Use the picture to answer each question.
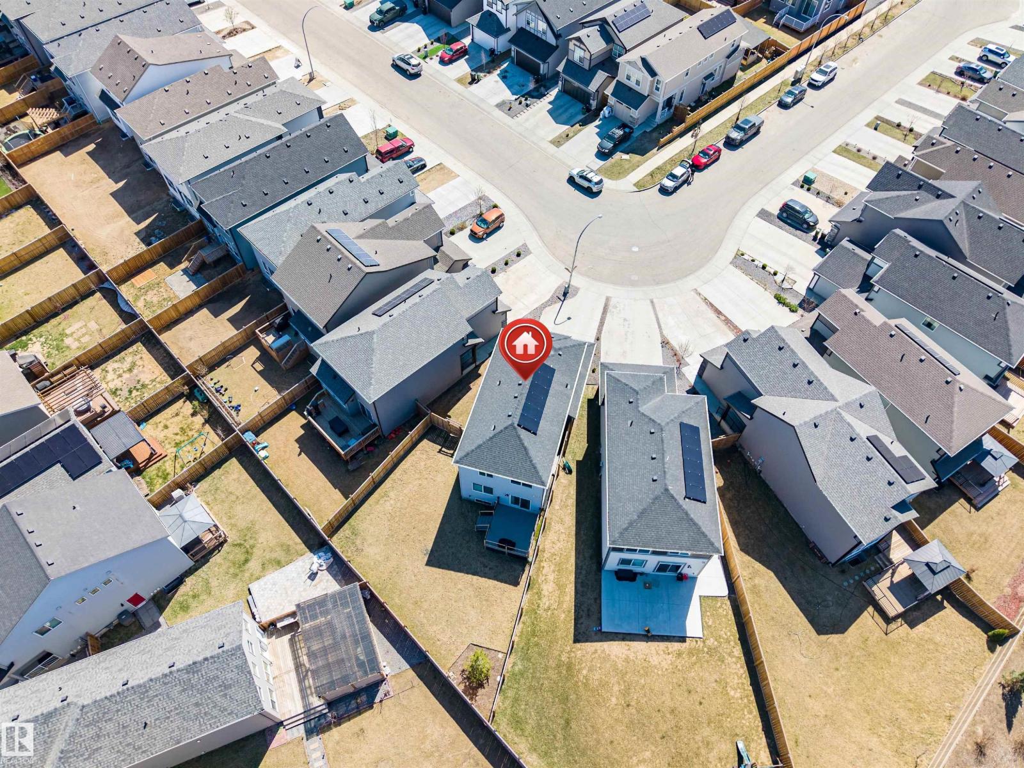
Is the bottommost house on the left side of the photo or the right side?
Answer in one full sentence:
The bottommost house appears in the left half of the scene.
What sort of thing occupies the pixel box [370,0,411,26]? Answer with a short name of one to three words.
truck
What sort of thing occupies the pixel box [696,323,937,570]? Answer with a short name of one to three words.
house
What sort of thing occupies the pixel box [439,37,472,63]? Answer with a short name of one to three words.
car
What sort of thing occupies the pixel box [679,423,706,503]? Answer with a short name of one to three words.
solar array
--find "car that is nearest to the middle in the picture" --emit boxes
[467,207,510,240]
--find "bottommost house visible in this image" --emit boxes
[0,601,276,768]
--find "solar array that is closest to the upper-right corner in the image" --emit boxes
[698,9,735,38]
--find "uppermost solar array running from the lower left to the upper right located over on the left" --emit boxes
[373,278,433,317]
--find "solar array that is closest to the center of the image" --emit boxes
[517,363,556,435]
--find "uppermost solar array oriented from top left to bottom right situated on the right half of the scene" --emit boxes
[895,324,960,375]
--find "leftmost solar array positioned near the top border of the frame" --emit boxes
[612,3,651,32]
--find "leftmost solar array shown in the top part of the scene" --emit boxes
[326,229,379,266]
